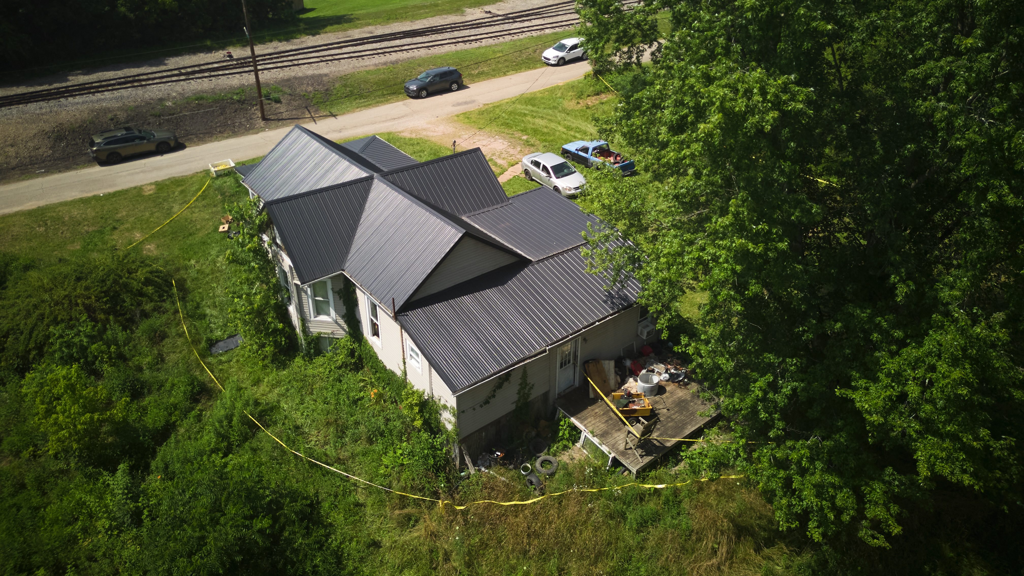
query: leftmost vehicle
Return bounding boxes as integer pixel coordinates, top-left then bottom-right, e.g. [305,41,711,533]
[82,125,177,165]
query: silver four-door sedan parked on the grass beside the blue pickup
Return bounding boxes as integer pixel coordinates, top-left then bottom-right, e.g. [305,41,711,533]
[516,156,588,200]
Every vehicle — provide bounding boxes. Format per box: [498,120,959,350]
[82,125,177,165]
[401,61,464,97]
[545,33,593,62]
[562,142,640,180]
[516,156,588,200]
